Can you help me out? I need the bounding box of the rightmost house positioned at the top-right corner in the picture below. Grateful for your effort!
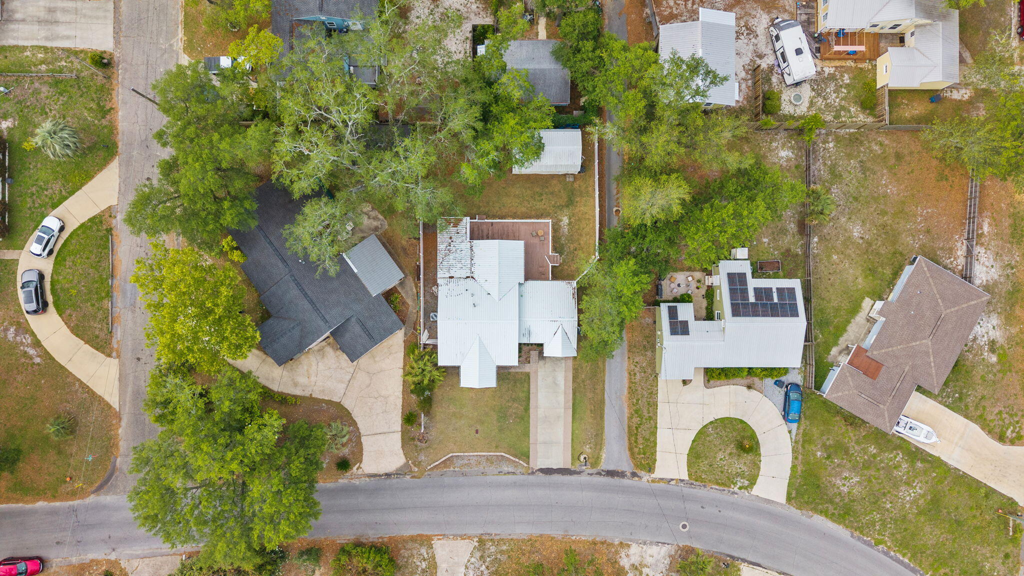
[809,0,959,92]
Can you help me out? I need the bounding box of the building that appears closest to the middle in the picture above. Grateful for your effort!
[438,217,578,388]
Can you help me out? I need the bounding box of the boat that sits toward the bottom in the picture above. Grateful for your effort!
[894,411,942,444]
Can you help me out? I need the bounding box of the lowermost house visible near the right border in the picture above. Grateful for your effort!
[817,254,991,434]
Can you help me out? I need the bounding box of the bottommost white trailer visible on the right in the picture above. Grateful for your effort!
[769,23,817,86]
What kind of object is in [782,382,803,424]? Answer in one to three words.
car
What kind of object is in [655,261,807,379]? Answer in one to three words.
house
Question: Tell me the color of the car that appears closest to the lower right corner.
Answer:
blue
